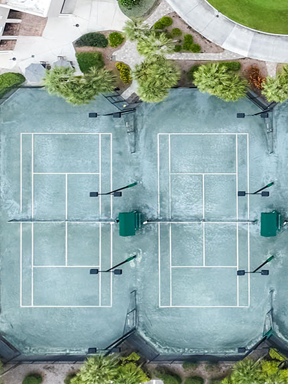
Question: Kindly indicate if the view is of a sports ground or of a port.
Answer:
sports ground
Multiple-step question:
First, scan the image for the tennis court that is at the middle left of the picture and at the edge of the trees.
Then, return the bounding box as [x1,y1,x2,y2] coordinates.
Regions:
[0,88,135,356]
